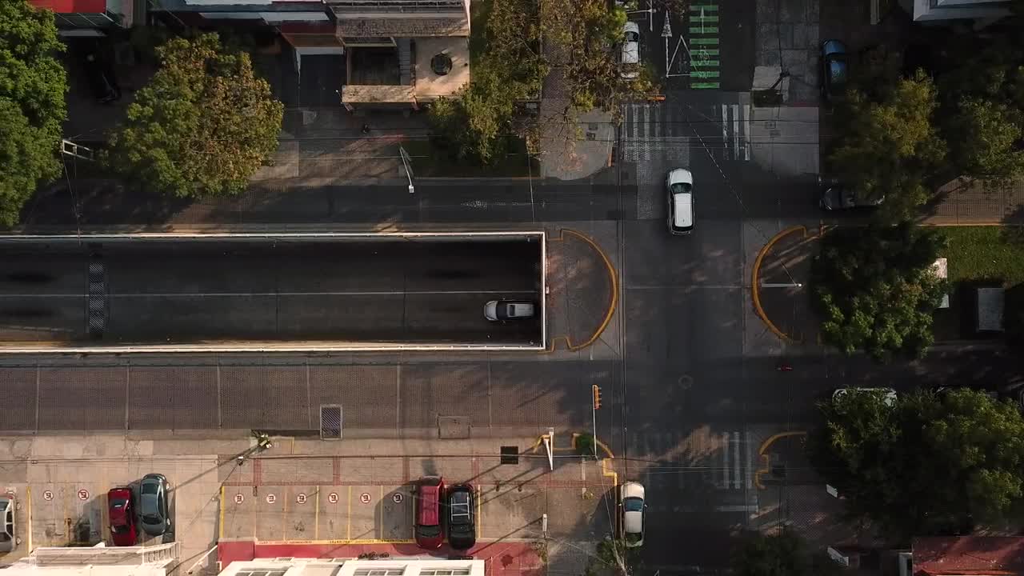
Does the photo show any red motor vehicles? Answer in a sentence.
Yes, there's a red motor vehicle here.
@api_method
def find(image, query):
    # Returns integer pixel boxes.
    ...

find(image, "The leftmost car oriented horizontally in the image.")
[485,299,537,324]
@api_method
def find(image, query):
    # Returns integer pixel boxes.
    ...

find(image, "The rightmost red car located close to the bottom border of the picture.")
[413,477,446,549]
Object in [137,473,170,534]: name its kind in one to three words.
car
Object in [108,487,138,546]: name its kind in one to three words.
car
